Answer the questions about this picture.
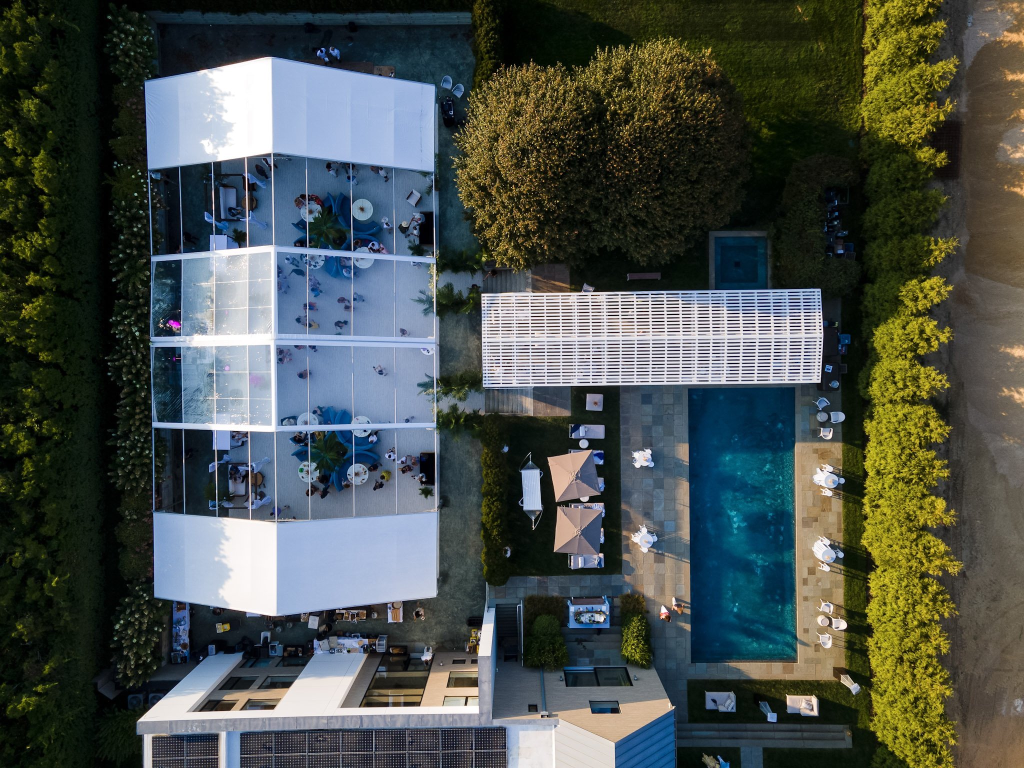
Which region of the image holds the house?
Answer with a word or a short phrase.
bottom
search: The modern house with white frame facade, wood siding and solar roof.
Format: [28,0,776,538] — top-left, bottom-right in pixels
[136,603,682,768]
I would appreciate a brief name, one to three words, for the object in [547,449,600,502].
umbrella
